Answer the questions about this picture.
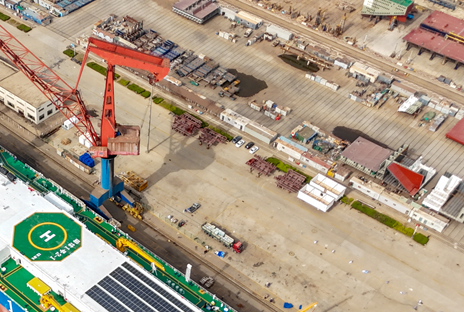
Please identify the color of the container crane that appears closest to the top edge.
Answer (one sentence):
In this view, the container crane that appears closest to the top edge is red.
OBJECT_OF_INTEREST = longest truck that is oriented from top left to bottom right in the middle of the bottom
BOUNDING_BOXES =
[201,224,241,255]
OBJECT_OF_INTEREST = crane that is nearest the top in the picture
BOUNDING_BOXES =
[0,18,170,223]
